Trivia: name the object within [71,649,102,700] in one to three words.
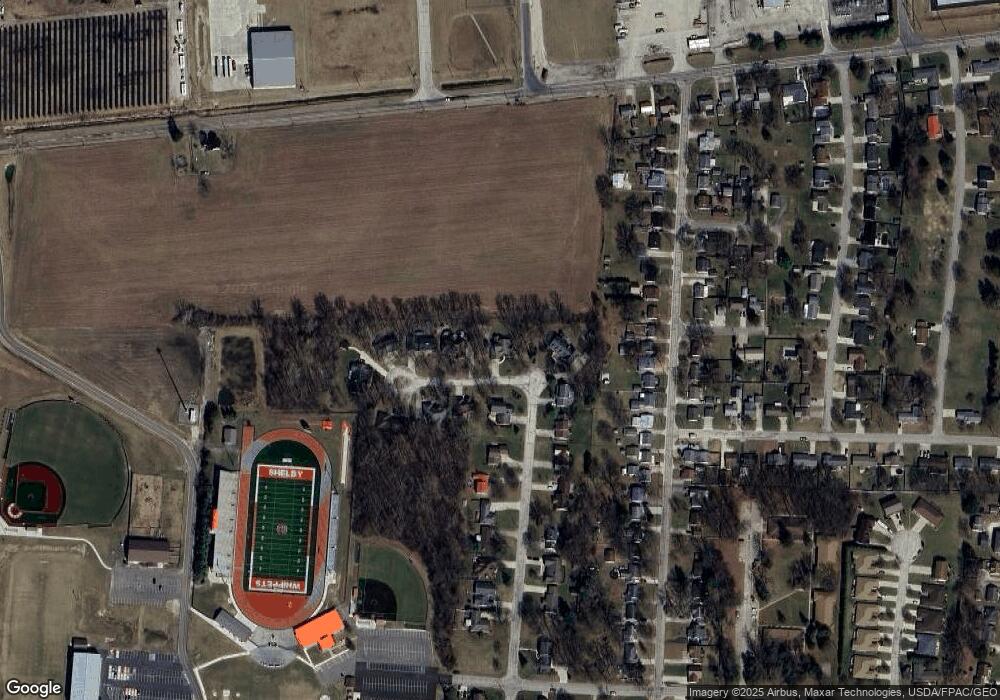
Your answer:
building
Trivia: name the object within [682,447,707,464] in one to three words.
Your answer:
house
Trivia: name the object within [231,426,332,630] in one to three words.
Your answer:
running track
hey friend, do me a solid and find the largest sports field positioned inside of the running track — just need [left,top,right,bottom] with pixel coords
[248,463,315,596]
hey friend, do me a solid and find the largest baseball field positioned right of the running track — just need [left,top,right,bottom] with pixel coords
[358,543,427,626]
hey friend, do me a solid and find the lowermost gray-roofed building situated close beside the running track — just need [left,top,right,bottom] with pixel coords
[213,607,255,642]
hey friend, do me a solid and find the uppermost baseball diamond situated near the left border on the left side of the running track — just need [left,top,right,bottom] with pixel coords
[1,400,128,527]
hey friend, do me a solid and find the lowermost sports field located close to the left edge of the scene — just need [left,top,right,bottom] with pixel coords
[11,545,96,700]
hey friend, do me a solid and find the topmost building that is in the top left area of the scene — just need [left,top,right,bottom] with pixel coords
[251,30,294,87]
